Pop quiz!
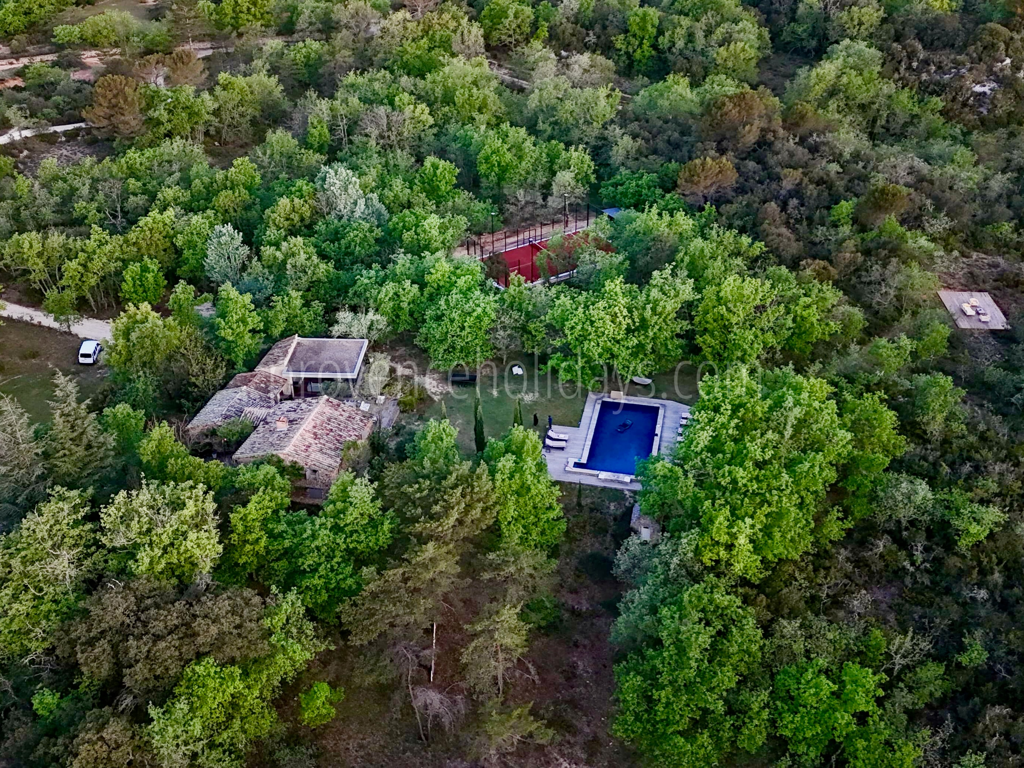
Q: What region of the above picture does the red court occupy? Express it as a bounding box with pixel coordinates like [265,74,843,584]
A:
[472,201,635,287]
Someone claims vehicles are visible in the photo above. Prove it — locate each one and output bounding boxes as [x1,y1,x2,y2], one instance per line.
[77,340,103,364]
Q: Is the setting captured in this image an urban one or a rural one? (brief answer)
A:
rural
